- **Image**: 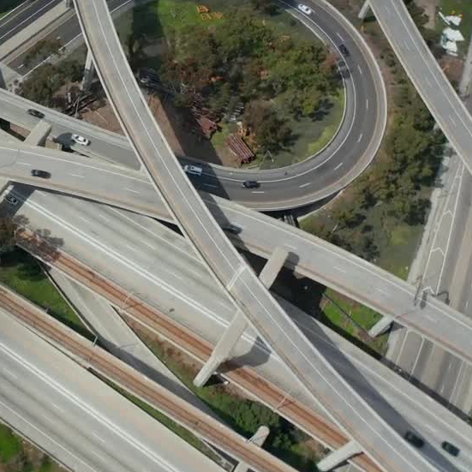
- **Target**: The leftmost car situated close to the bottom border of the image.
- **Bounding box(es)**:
[402,429,428,448]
